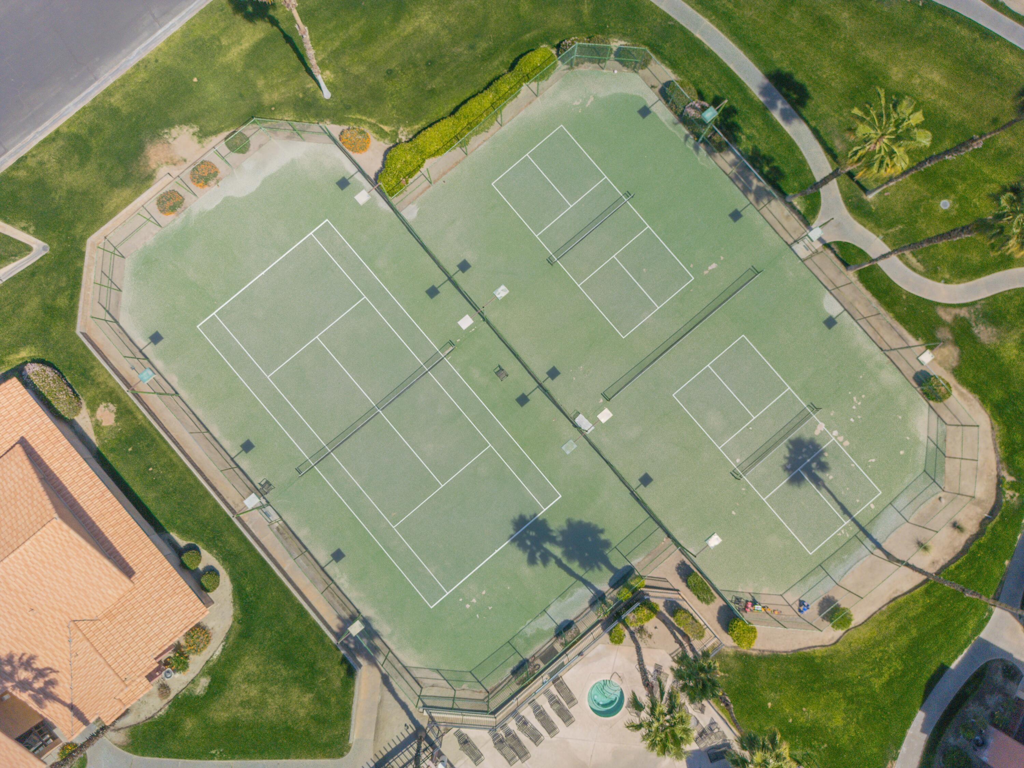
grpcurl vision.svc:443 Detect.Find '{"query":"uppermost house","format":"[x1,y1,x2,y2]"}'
[0,377,215,742]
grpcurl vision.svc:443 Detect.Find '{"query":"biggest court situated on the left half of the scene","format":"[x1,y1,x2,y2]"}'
[118,140,668,692]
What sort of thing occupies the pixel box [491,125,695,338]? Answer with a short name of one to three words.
sports court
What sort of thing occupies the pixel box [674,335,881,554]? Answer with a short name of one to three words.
sports court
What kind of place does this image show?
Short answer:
sports ground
